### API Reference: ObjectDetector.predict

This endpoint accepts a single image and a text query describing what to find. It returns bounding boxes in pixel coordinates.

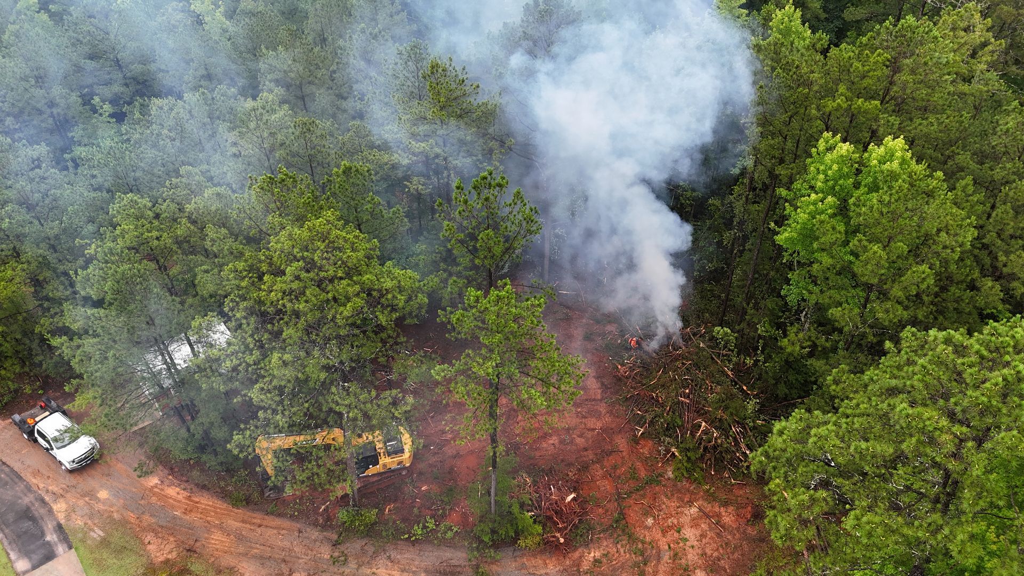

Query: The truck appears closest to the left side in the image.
[1,392,101,471]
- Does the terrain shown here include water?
No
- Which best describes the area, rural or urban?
rural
